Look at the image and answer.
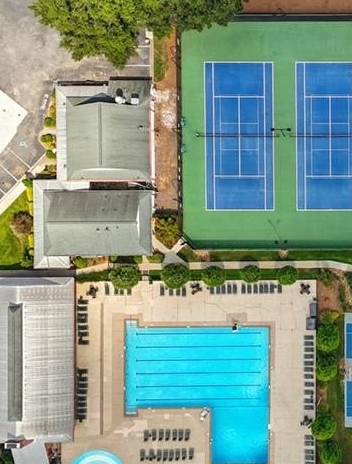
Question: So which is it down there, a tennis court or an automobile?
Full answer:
It is a tennis court that can be seen here.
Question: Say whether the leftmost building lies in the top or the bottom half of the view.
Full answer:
The leftmost building sits in the bottom half of the picture.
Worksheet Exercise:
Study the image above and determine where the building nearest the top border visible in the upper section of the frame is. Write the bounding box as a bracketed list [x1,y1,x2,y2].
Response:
[55,79,156,182]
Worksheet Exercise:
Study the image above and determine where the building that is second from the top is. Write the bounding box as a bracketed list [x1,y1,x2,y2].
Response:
[33,179,156,269]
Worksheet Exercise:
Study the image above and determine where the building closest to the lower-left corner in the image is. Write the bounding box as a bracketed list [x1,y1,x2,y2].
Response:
[0,277,79,464]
